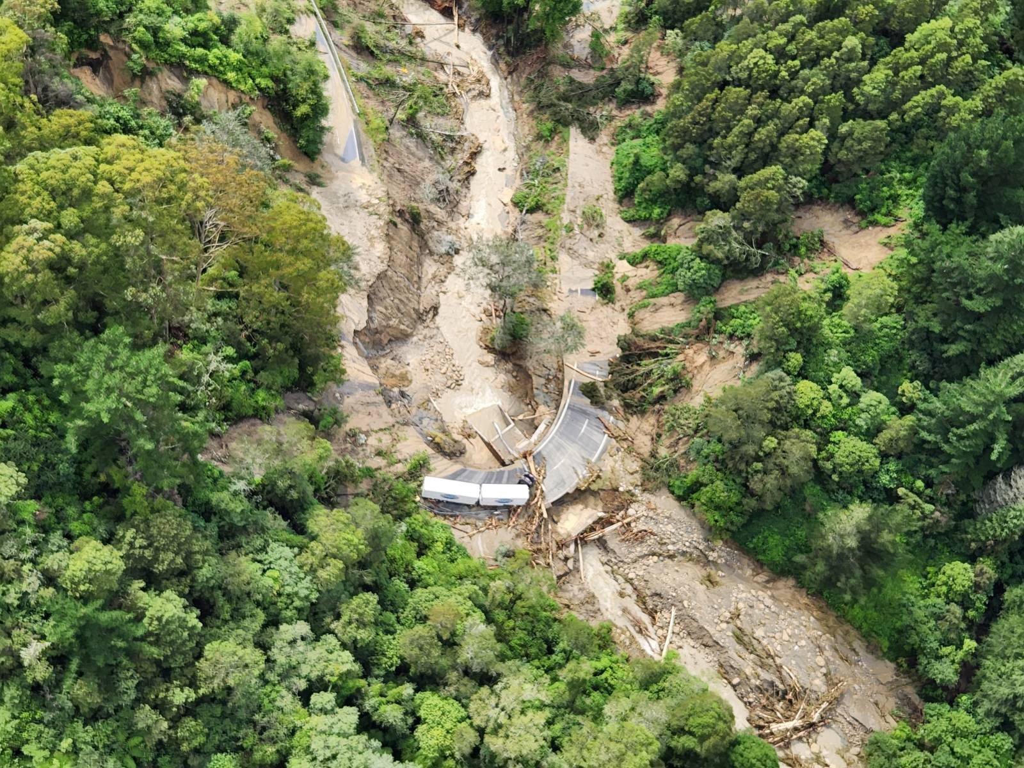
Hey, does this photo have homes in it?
No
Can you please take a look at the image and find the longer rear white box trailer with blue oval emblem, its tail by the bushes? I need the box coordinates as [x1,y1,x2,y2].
[422,477,481,508]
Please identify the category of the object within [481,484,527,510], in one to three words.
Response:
trailer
